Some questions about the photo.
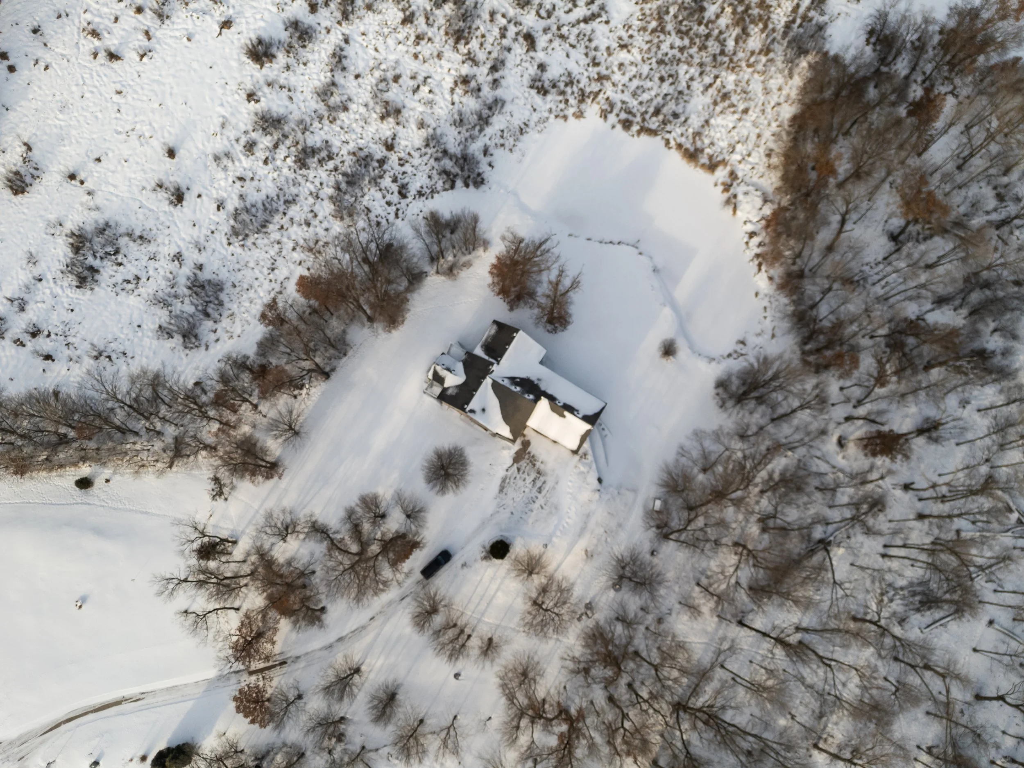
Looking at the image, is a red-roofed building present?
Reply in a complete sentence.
No, there isn't any red-roofed building down there.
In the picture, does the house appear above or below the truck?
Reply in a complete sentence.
Looking at the photo, you'll find the house above the truck.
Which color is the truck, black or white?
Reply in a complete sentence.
The color of the truck is black.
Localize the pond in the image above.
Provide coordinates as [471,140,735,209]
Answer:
[513,114,761,358]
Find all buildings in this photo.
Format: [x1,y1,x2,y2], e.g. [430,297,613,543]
[421,319,607,458]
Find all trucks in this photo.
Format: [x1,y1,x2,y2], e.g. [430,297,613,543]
[419,549,452,581]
